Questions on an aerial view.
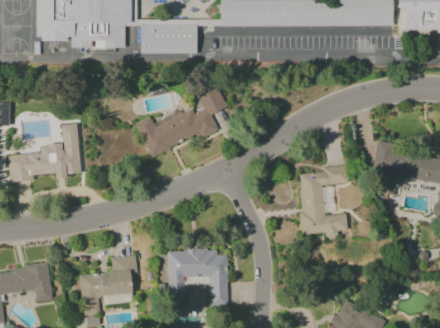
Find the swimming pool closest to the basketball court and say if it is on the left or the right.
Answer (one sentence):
It is on the left.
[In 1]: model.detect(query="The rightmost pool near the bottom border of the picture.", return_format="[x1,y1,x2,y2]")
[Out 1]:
[176,316,202,328]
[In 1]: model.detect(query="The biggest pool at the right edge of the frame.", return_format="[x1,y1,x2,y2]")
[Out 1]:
[404,196,428,212]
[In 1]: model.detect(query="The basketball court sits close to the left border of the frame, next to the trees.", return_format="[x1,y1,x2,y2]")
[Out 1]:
[0,0,36,56]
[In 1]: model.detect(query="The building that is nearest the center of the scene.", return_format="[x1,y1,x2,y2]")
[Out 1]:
[135,90,228,157]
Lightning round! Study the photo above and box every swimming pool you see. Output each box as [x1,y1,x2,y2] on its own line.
[10,302,38,328]
[22,120,51,140]
[144,93,172,112]
[104,312,132,325]
[404,196,428,212]
[176,316,202,328]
